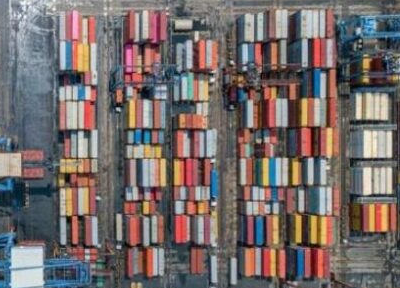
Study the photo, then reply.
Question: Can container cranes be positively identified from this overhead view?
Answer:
Yes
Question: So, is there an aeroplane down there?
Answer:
No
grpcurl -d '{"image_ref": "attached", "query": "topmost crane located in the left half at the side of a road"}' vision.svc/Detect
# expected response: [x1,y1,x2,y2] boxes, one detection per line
[104,62,185,95]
